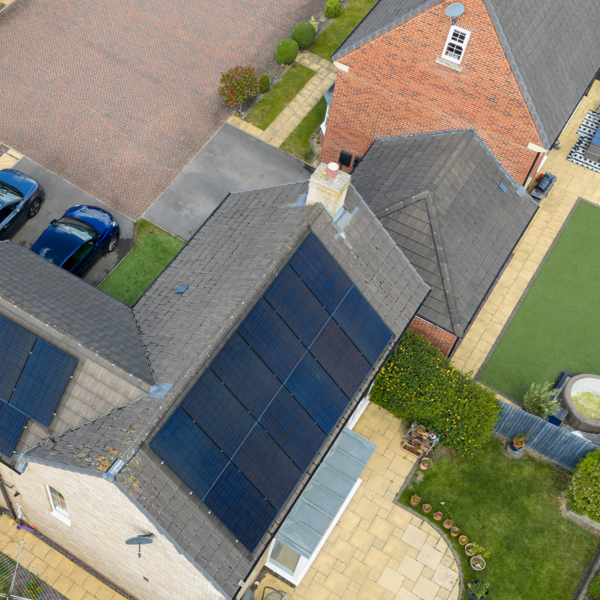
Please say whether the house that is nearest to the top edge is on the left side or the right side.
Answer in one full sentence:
The house that is nearest to the top edge sits on the right side.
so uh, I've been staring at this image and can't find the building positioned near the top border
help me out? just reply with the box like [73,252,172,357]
[317,0,600,192]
